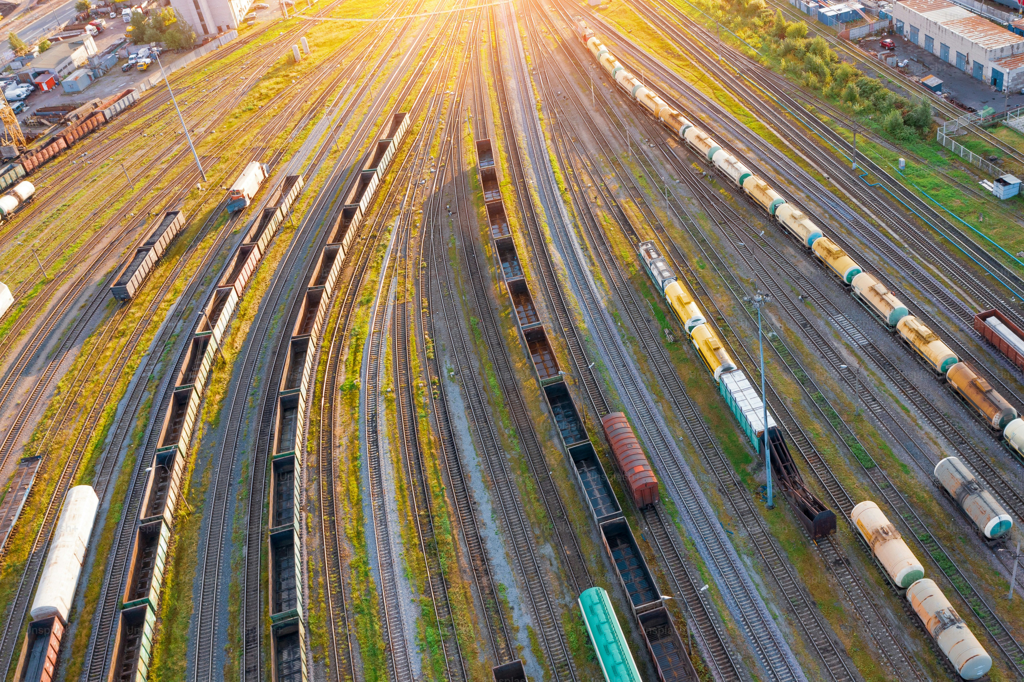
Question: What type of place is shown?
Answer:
rail yard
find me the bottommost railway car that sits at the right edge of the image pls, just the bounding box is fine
[904,579,996,682]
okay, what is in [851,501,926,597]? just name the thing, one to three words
rail car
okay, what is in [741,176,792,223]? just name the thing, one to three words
rail car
